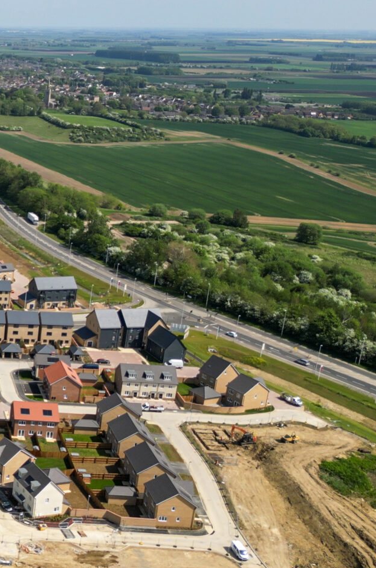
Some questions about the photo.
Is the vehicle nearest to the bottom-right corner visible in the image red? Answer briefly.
No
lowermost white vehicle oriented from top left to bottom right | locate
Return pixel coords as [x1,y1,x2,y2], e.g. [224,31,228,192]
[229,534,253,557]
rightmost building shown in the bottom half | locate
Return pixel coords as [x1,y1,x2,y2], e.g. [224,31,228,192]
[225,363,272,406]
